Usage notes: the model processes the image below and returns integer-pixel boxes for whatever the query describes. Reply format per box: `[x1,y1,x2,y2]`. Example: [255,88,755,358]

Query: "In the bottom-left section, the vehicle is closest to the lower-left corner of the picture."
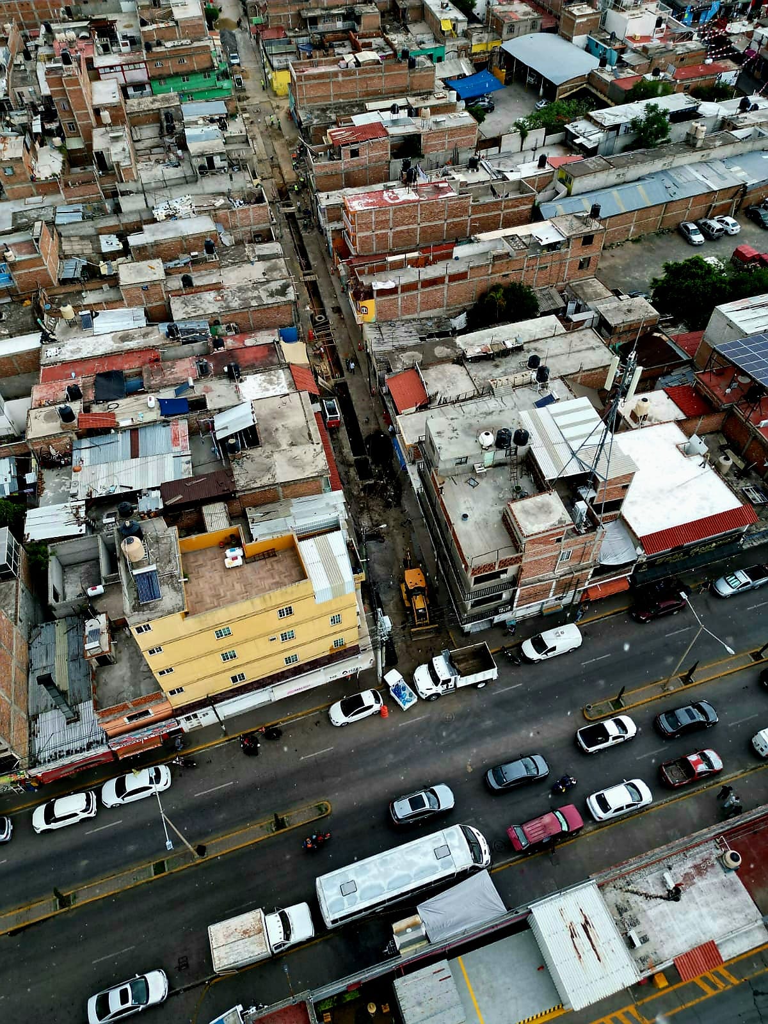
[85,966,171,1024]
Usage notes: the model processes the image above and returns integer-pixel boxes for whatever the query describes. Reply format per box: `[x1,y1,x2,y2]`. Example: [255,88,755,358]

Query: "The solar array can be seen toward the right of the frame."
[704,320,768,399]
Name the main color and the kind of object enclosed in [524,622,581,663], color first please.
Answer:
white van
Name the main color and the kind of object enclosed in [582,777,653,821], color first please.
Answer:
white car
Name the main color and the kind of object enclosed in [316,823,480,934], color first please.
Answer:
white bus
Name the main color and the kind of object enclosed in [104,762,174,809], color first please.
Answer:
white car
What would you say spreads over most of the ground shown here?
buildings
